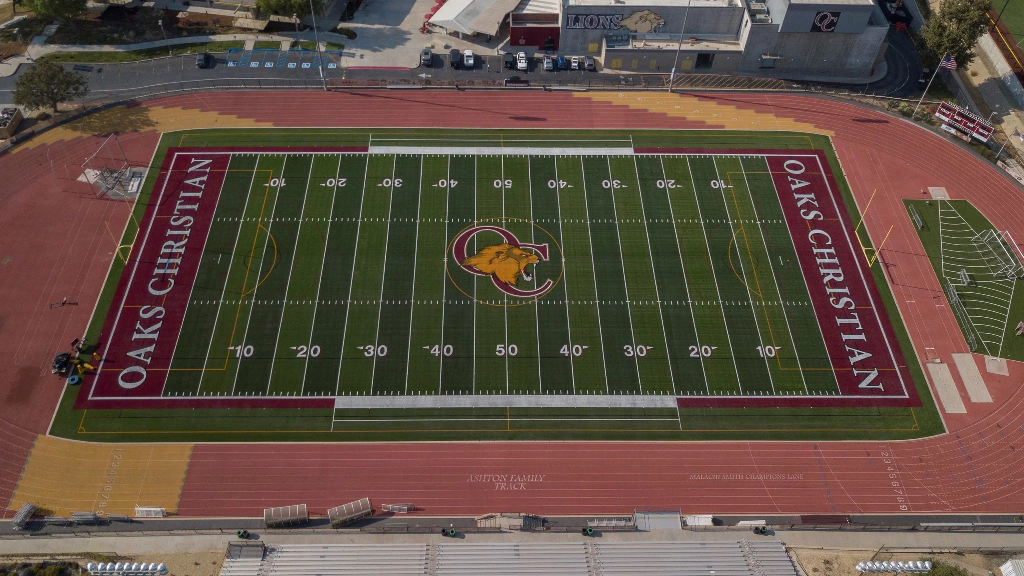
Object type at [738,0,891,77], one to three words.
building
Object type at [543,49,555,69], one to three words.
vehicle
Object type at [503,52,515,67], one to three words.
vehicle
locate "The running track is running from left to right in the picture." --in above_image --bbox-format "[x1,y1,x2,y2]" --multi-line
[0,89,1024,520]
